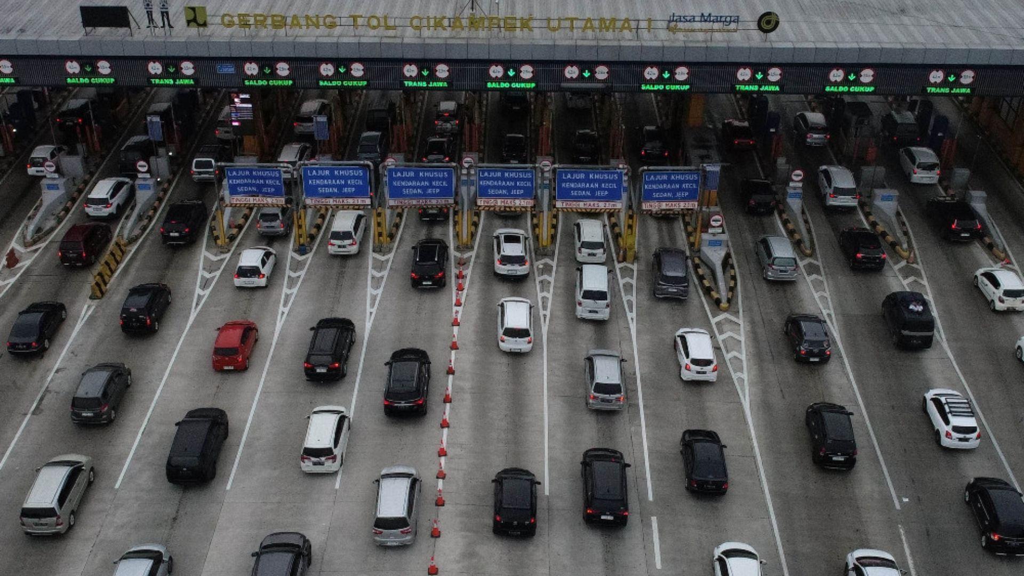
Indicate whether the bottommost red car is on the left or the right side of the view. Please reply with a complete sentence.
The bottommost red car sits on the left side.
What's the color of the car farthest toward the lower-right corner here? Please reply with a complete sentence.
In this view, the car farthest toward the lower-right corner is black.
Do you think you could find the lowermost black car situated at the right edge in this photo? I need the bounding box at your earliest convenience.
[950,469,1024,555]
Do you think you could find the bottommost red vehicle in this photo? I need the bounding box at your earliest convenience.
[212,319,261,371]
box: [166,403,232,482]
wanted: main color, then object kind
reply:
black car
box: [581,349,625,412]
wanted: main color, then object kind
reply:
gray car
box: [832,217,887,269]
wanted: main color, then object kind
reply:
black car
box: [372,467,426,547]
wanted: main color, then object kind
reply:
gray car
